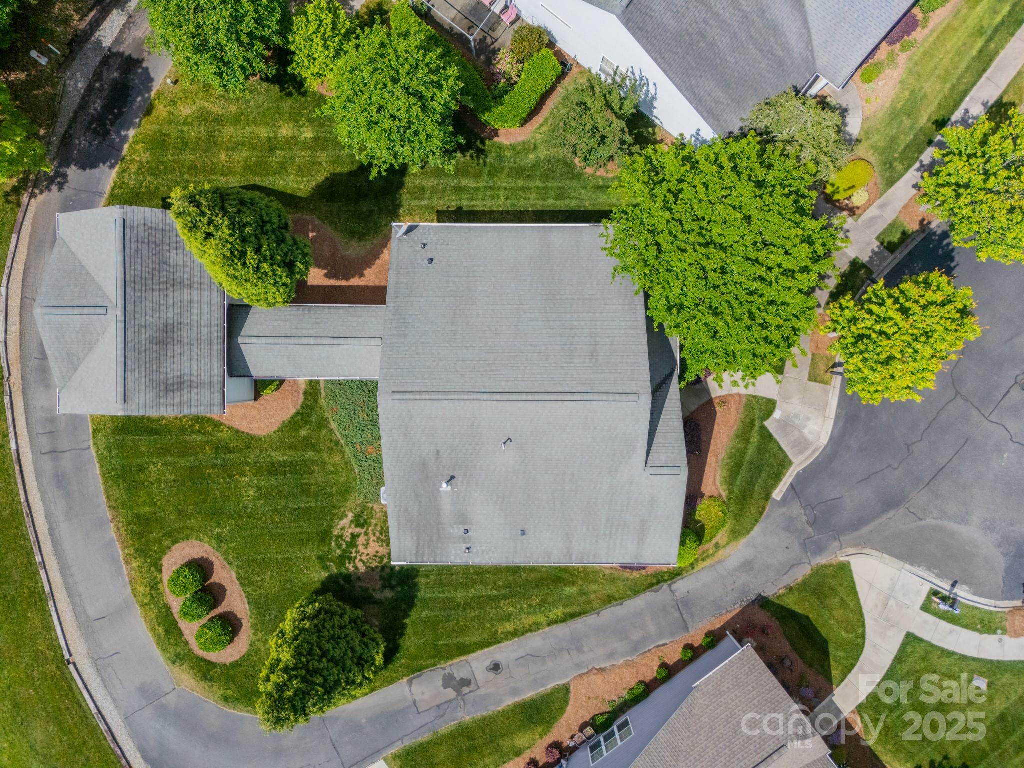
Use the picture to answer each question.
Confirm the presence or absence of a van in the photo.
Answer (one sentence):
No, the frame has no van in it.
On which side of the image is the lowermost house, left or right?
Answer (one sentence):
You can find the lowermost house on the right side of the picture.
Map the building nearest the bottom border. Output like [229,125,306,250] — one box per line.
[557,635,840,768]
